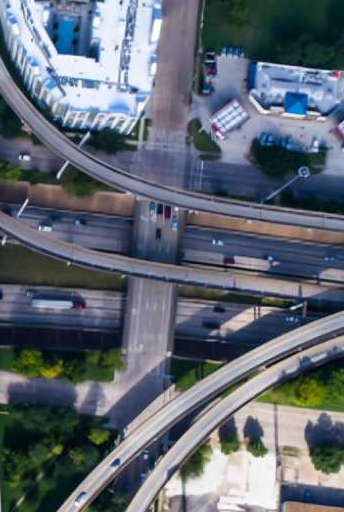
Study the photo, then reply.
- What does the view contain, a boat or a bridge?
bridge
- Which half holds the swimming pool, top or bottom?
top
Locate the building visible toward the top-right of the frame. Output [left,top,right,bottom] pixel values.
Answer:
[245,62,343,123]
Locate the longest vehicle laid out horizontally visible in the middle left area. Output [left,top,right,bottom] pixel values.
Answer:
[29,298,86,310]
